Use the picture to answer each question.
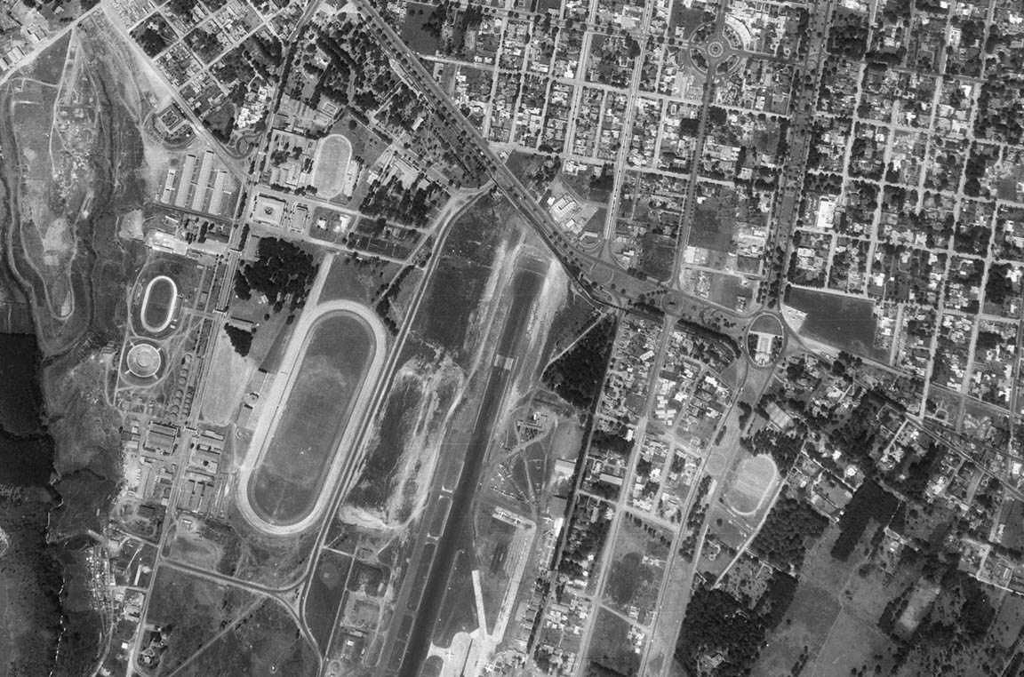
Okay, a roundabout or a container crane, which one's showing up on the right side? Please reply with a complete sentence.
It is a roundabout that can be seen on the right side.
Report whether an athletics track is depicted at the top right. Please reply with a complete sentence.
No, at the top right there is no athletics track.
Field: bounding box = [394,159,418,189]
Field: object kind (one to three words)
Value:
building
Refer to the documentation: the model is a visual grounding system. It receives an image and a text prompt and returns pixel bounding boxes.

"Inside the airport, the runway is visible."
[400,264,540,677]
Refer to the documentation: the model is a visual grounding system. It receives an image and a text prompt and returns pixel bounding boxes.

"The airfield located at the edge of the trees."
[375,264,544,677]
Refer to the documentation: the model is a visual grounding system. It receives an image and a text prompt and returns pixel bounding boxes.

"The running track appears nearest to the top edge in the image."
[312,135,354,198]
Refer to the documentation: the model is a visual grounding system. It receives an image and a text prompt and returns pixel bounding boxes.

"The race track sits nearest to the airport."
[239,254,387,535]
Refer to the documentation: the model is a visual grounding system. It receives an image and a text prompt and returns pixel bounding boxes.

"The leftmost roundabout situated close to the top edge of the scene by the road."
[689,23,743,75]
